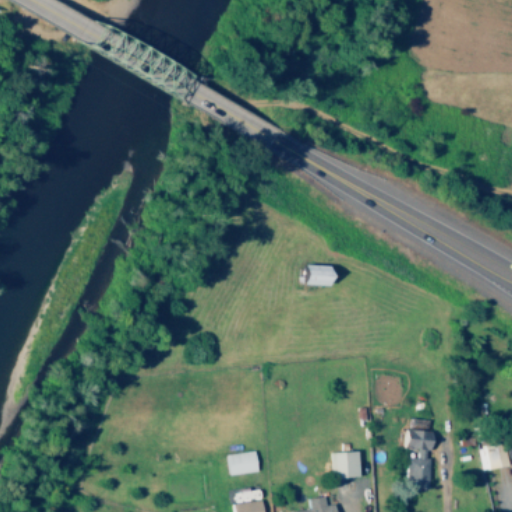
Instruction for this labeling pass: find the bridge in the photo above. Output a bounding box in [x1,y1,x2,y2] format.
[7,0,288,158]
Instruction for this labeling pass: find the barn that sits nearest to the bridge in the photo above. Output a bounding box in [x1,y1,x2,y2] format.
[305,264,340,288]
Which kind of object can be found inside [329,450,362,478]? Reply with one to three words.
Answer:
building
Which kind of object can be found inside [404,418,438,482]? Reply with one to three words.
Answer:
house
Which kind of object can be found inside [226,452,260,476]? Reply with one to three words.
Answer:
shed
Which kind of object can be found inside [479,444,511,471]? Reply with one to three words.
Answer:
house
